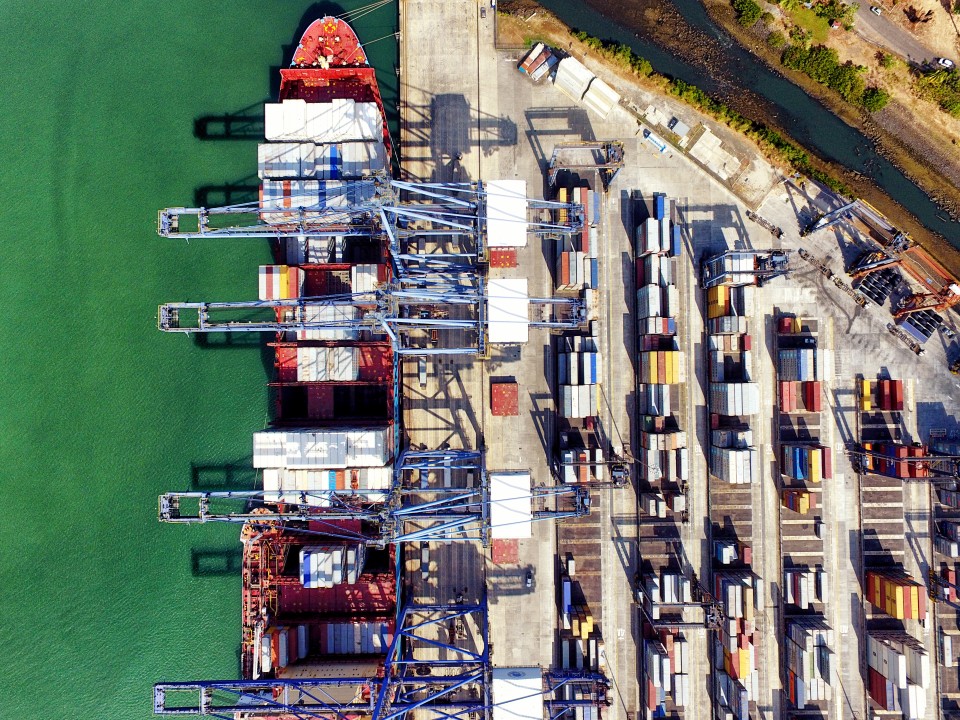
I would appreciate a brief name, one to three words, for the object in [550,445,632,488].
container crane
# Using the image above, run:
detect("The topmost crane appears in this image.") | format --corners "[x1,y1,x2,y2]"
[547,141,625,195]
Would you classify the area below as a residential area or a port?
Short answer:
port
